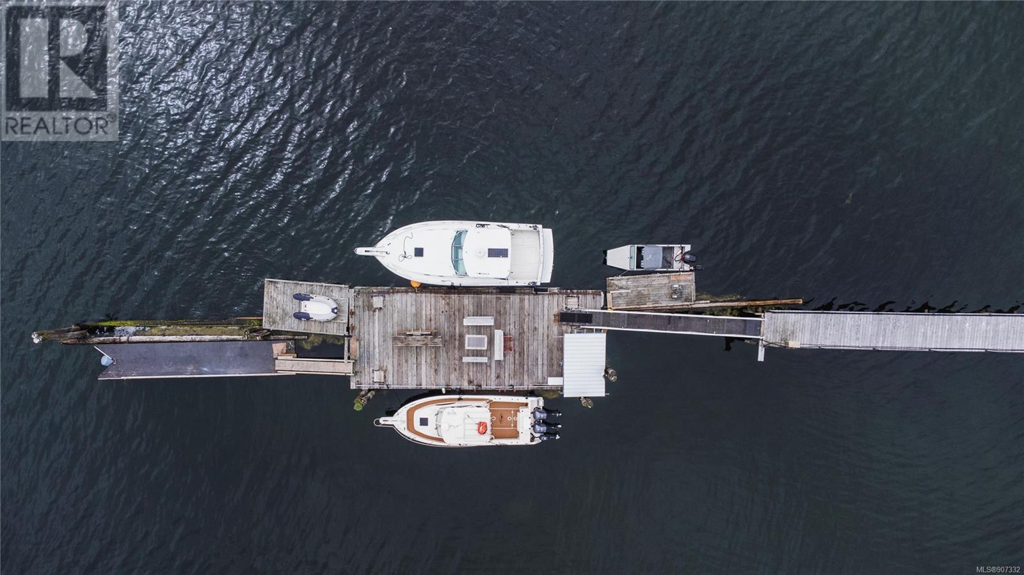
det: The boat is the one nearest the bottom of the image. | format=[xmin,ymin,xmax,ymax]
[373,394,564,449]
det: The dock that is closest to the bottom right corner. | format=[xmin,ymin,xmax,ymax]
[742,310,1024,361]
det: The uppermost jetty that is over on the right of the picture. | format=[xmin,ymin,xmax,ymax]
[606,272,695,309]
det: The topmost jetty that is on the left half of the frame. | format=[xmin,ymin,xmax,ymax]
[263,279,350,336]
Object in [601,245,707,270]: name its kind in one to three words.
boat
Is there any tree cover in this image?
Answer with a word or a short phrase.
No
